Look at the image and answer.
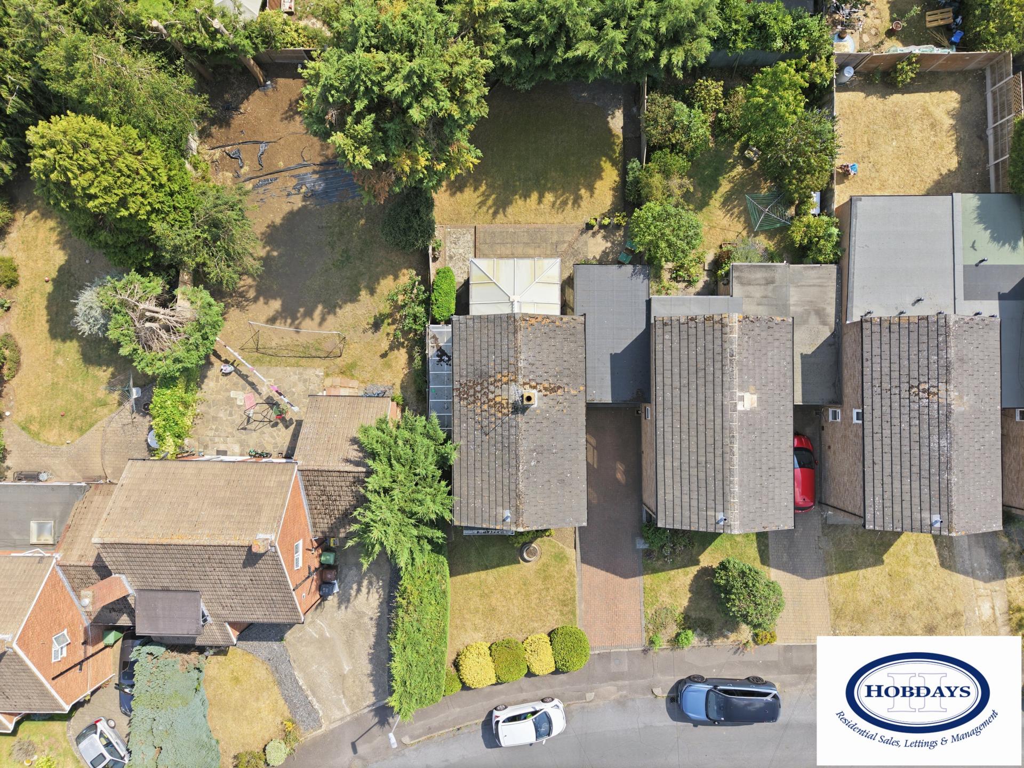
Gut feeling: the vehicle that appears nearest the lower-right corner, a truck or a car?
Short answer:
car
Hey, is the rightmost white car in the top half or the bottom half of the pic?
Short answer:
bottom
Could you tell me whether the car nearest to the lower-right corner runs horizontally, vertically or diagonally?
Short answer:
horizontally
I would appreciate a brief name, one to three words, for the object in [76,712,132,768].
car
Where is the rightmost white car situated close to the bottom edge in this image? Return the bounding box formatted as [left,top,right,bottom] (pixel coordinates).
[491,695,567,744]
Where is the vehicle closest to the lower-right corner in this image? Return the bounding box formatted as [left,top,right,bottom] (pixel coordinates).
[672,673,776,724]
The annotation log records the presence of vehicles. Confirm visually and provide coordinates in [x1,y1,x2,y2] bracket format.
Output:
[108,627,150,720]
[672,673,776,724]
[795,432,820,514]
[76,712,132,768]
[491,695,567,744]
